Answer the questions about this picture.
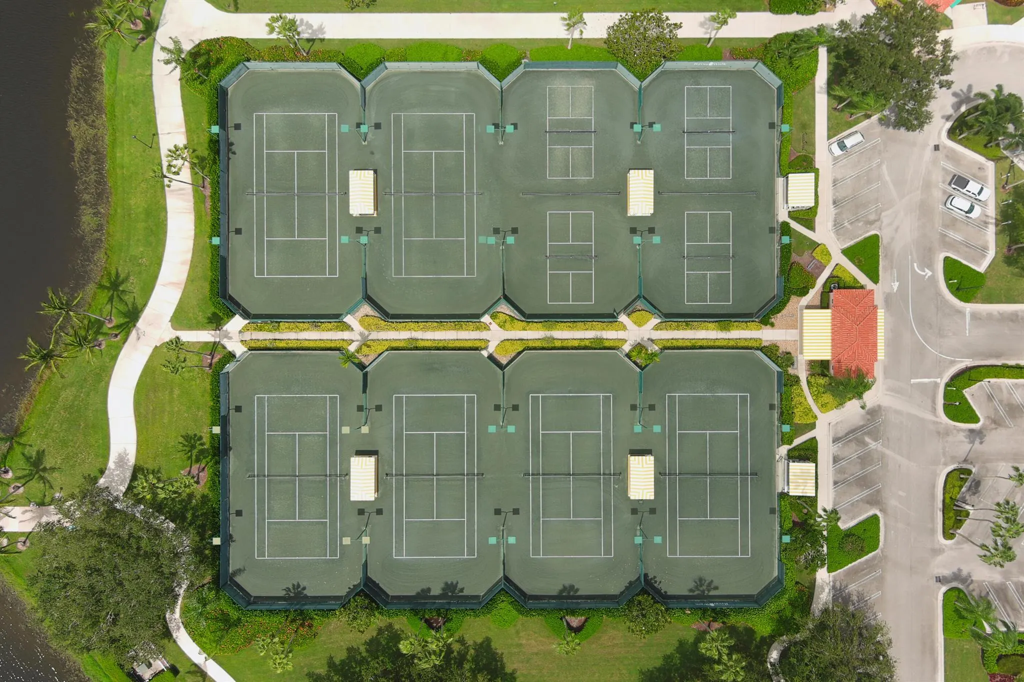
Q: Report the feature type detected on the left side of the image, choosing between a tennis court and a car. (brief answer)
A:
tennis court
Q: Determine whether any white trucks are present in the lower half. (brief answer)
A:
No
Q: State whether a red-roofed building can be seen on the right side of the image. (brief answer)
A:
Yes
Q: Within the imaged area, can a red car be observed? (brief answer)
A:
No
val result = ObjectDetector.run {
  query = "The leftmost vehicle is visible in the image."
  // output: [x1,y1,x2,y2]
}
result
[826,130,866,157]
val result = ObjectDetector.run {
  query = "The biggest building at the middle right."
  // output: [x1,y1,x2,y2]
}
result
[796,289,884,379]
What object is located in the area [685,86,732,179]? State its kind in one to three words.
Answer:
sports court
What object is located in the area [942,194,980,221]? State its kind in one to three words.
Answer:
car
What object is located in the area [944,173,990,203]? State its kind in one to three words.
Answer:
truck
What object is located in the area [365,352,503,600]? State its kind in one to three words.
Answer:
tennis court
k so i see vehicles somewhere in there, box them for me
[944,173,990,203]
[942,194,980,221]
[826,130,866,157]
